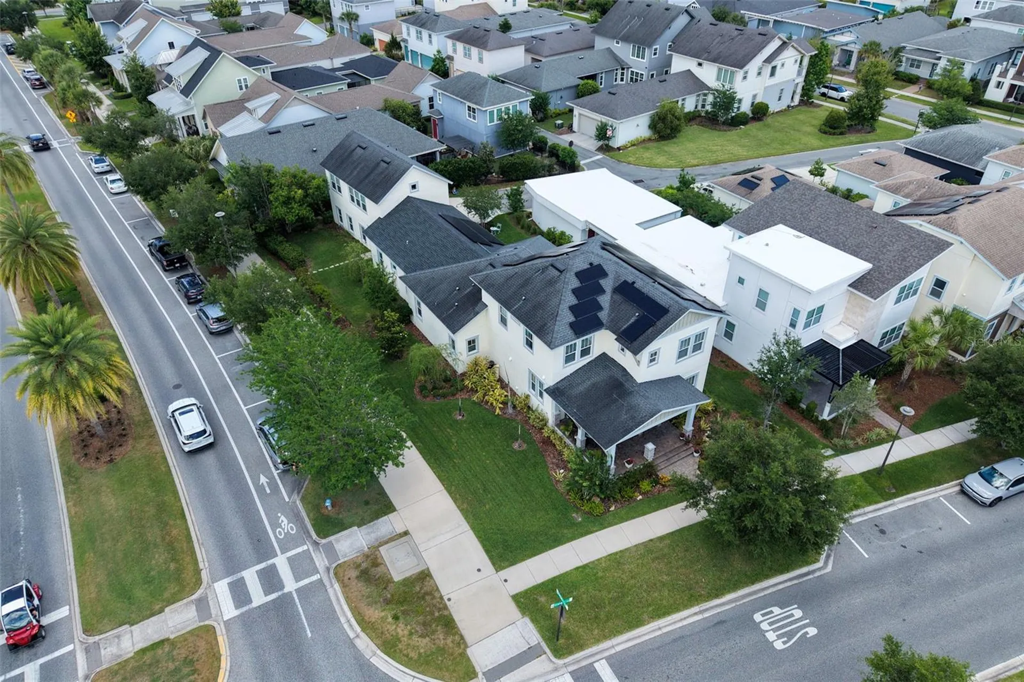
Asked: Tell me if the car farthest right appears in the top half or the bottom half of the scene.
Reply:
bottom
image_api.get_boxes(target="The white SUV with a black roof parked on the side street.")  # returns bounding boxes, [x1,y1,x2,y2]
[819,83,851,100]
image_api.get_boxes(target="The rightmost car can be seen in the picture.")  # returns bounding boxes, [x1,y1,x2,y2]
[967,456,1024,503]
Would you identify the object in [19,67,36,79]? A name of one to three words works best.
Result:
vehicle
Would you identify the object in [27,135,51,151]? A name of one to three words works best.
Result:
car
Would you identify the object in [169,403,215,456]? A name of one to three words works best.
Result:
car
